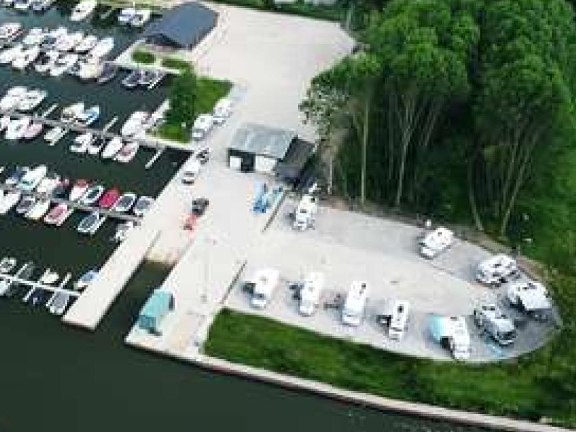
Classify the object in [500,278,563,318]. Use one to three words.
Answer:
camper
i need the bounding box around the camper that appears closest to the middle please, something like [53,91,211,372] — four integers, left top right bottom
[294,191,317,230]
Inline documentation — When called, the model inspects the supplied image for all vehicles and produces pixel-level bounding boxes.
[294,191,317,230]
[343,277,370,326]
[189,197,207,217]
[197,150,208,163]
[182,163,200,181]
[470,249,524,287]
[385,292,412,344]
[443,310,472,360]
[251,264,281,310]
[472,296,518,349]
[500,278,563,318]
[193,113,213,138]
[213,99,230,120]
[419,221,455,260]
[297,268,326,317]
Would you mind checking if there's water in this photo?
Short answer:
Yes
